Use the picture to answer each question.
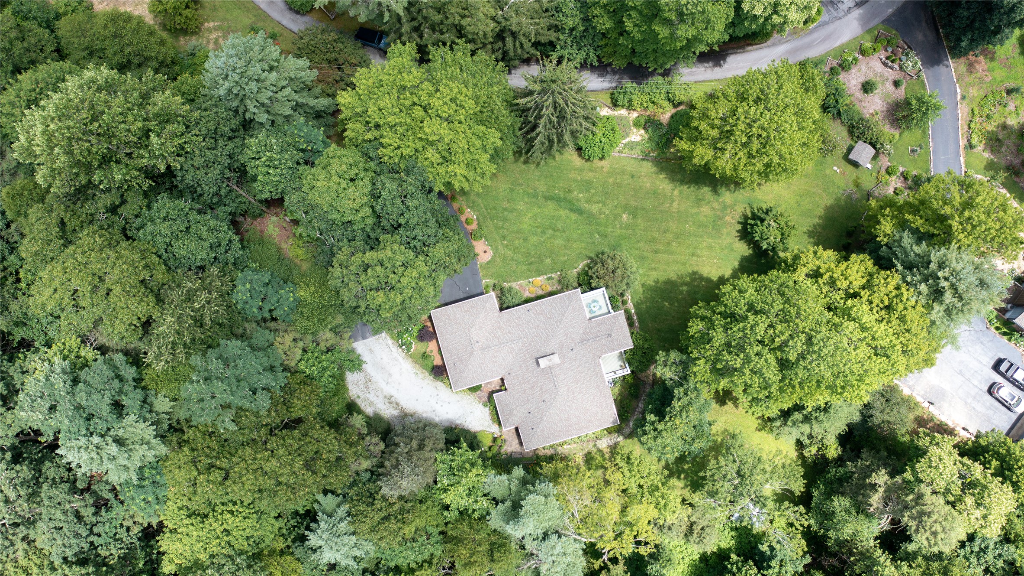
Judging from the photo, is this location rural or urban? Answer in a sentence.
The area shown here is rural.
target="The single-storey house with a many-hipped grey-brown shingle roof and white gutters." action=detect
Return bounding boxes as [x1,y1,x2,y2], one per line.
[430,287,635,452]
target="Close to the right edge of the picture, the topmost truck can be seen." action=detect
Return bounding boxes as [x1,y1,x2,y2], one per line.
[998,354,1024,391]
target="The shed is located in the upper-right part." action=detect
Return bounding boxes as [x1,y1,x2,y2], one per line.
[842,141,874,169]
